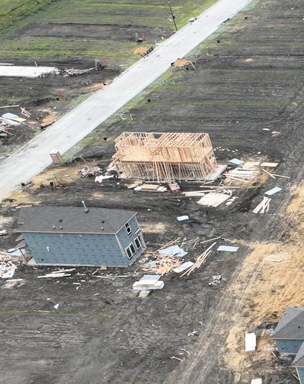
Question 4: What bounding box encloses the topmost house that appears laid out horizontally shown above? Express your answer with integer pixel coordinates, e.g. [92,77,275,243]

[111,131,224,181]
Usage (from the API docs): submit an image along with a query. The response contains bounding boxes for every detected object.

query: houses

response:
[7,204,148,269]
[111,131,224,181]
[272,306,304,355]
